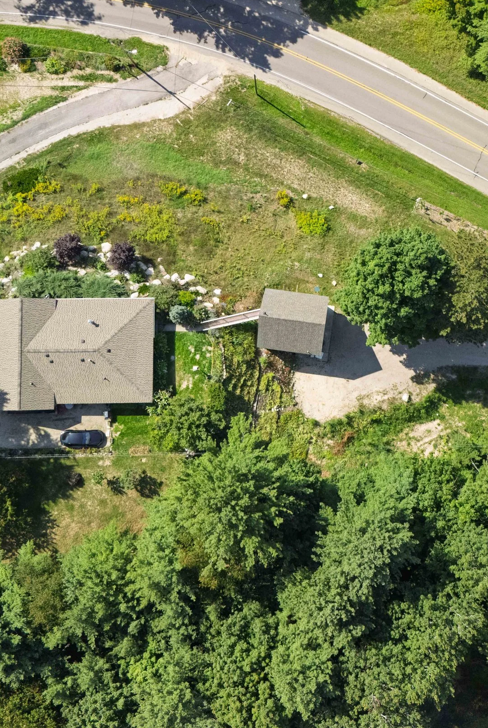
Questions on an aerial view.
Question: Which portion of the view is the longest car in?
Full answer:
The longest car appears toward the left of the photo.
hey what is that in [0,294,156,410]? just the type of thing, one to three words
house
